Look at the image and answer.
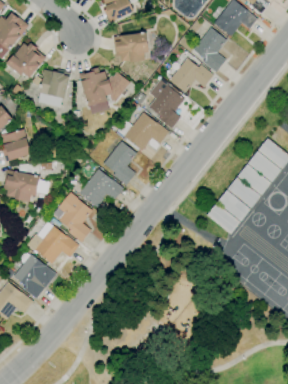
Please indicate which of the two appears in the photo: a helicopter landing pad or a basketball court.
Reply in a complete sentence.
Of the two, only a basketball court appears.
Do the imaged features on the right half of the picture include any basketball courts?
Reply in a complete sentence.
Yes, there is a basketball court on the right half of the picture.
